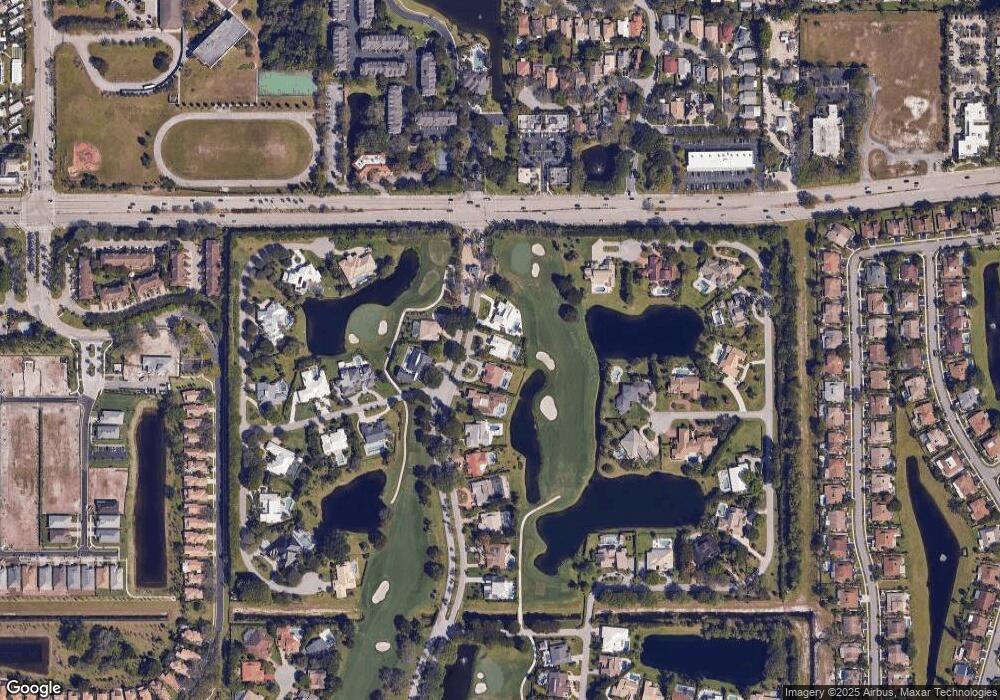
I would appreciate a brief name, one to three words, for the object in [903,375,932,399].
house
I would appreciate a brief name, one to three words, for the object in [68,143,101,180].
baseball field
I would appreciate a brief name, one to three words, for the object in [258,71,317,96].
sports court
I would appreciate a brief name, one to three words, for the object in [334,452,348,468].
swimming pool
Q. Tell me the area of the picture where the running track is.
top left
